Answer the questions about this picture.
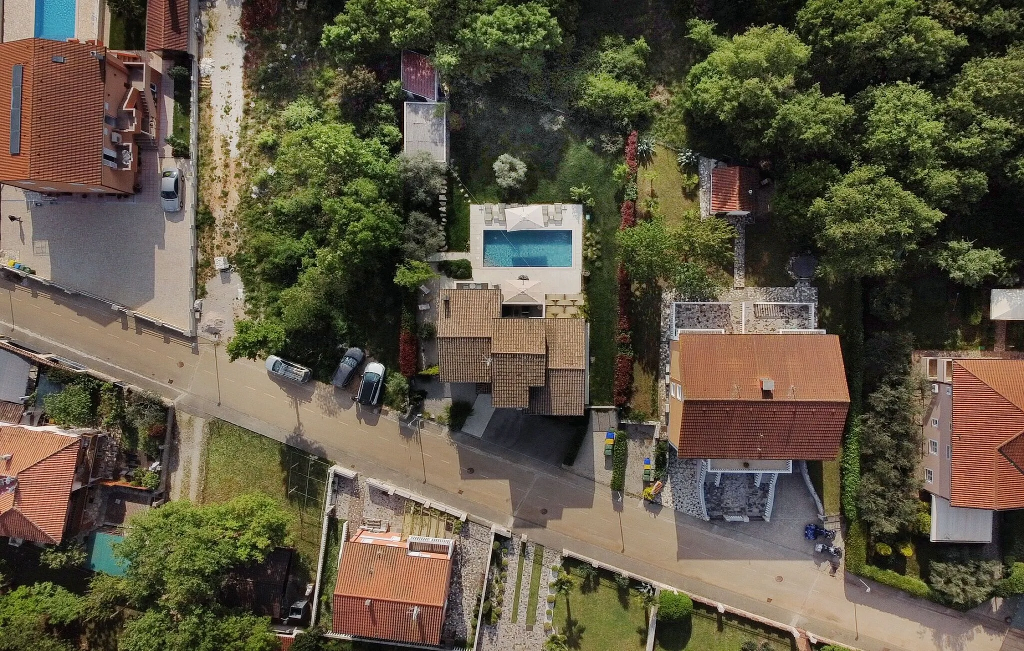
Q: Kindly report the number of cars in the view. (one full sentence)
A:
Altogether the scene contains 4 cars.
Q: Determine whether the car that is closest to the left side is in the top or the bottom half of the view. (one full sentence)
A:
The car that is closest to the left side is in the top half of the image.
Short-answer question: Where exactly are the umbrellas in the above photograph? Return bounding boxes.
[504,205,545,232]
[502,280,542,304]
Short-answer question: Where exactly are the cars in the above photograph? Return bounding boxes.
[158,167,182,212]
[263,357,311,387]
[332,349,361,392]
[357,362,384,408]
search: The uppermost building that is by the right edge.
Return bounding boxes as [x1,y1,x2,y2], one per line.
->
[971,289,1024,320]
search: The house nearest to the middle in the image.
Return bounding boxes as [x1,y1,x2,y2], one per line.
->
[436,289,586,416]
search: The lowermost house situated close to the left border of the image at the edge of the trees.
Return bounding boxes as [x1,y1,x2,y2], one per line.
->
[0,422,101,544]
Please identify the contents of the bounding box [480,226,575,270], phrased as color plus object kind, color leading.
blue swimming pool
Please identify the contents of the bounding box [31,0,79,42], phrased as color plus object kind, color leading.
blue swimming pool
